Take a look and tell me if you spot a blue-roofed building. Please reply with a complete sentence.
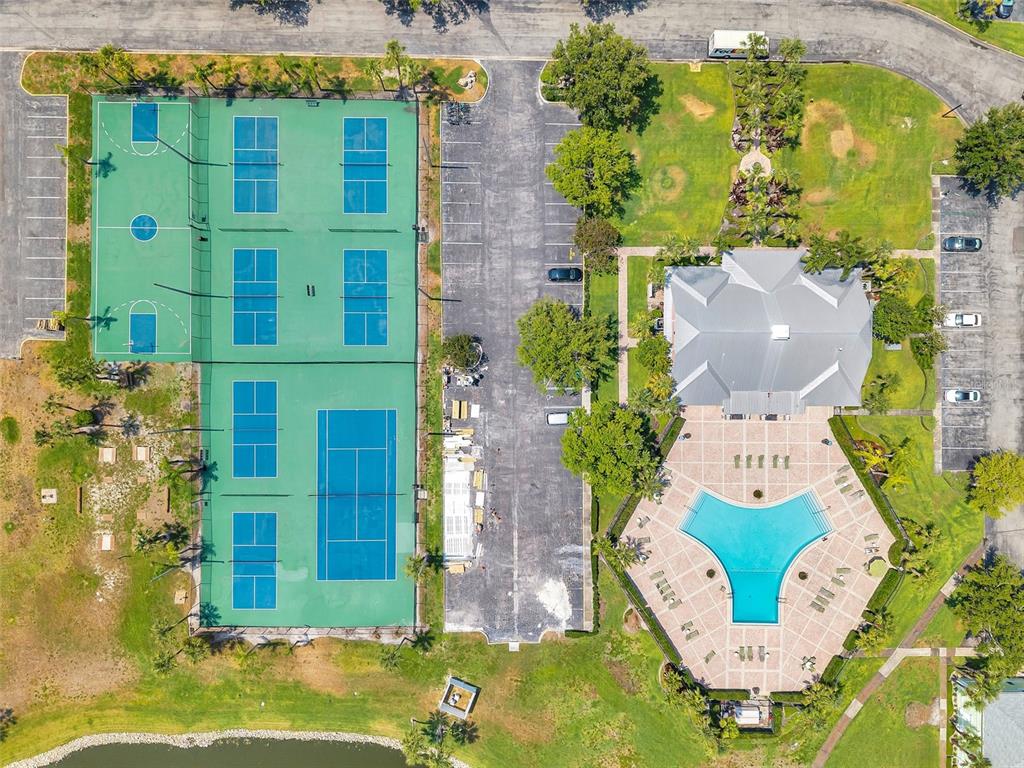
No, I can see no blue-roofed building in this picture.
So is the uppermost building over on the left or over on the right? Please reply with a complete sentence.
It is on the right.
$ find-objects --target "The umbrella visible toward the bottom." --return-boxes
[867,557,887,576]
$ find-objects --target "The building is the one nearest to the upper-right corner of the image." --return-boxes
[664,249,873,414]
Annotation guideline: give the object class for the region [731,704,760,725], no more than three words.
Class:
shed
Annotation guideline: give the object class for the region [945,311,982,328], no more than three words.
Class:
car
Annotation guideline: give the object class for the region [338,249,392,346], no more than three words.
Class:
sports court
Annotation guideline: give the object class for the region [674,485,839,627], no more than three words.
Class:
swimming pool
